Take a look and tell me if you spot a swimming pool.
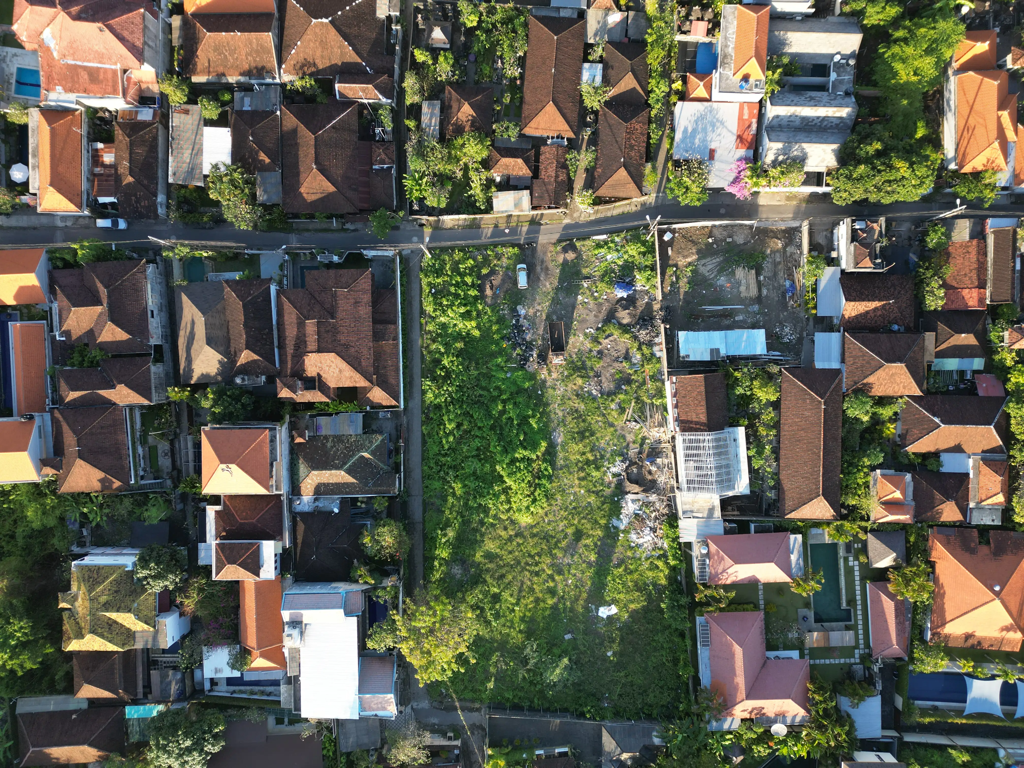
Yes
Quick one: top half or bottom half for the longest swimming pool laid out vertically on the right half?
bottom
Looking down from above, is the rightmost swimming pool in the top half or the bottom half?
bottom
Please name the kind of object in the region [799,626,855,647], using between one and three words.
gazebo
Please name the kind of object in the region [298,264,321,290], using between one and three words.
swimming pool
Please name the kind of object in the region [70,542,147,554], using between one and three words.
shed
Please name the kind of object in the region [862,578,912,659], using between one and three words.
house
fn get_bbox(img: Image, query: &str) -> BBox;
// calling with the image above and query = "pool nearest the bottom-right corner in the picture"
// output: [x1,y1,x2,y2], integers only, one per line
[907,671,1024,708]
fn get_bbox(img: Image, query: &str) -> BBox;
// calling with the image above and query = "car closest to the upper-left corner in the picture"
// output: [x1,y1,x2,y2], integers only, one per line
[94,216,126,229]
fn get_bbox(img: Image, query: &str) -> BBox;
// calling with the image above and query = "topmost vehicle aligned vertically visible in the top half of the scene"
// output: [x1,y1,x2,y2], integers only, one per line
[516,262,528,288]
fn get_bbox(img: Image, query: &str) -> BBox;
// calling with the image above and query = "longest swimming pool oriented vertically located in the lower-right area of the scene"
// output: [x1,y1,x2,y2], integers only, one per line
[808,541,854,625]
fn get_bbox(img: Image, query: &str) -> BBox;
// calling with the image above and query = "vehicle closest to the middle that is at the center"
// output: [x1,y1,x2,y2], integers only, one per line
[551,316,567,362]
